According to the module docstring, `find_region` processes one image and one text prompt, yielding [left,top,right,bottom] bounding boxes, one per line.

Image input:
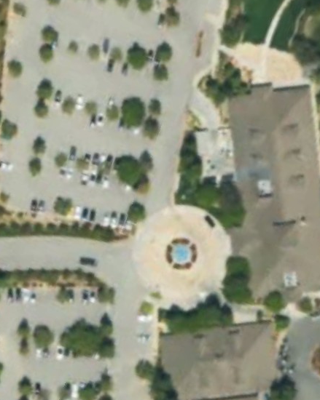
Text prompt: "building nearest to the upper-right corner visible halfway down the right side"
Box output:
[227,84,320,298]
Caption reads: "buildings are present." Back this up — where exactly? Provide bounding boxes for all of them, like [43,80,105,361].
[227,84,320,298]
[161,323,279,400]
